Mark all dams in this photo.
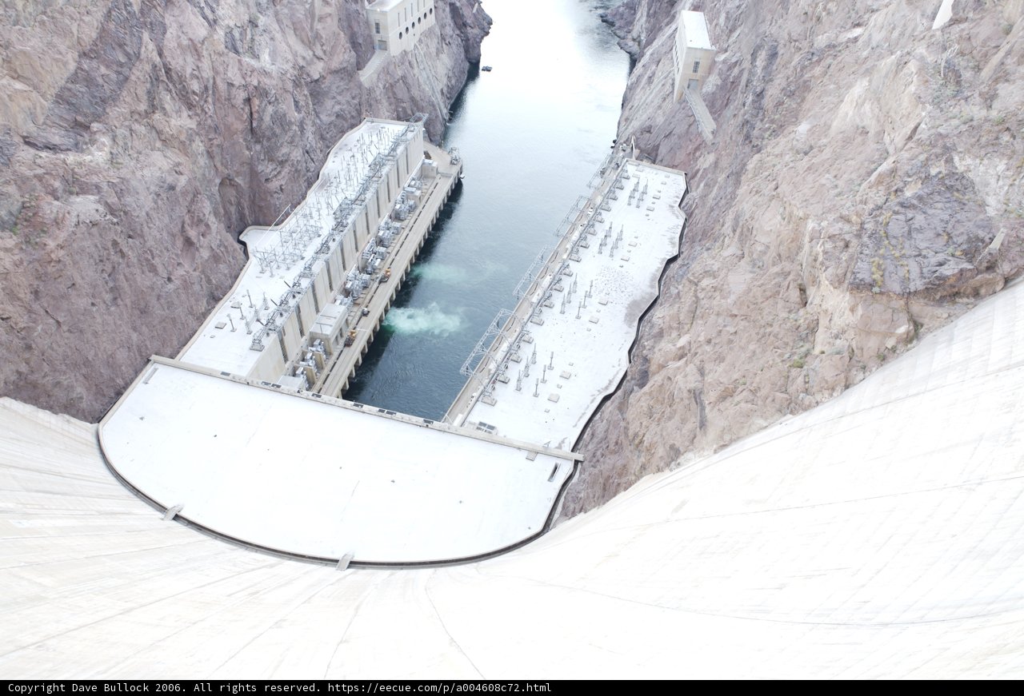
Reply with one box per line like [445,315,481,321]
[0,269,1024,696]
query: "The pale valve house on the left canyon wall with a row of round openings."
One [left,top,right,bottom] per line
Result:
[366,0,436,74]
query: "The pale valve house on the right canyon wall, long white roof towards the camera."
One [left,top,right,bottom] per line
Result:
[670,9,715,118]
